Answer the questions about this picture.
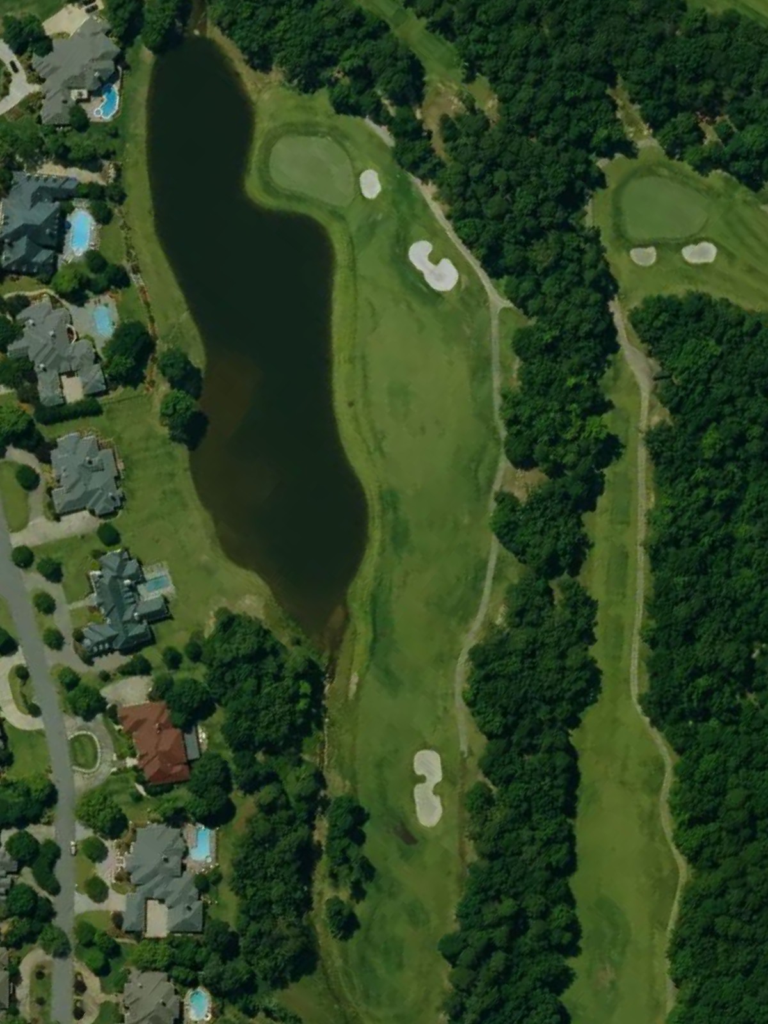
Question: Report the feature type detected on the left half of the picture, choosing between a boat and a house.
house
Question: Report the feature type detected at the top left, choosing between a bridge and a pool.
pool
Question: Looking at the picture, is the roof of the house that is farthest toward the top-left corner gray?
Yes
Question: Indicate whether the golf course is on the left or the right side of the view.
right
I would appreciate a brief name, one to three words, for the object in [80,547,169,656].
house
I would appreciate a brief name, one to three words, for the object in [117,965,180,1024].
house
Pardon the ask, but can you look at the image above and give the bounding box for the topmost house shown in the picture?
[29,11,123,124]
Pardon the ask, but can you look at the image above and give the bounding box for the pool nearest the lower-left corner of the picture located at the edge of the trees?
[188,985,212,1021]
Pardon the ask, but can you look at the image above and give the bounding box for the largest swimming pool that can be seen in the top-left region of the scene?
[70,207,92,254]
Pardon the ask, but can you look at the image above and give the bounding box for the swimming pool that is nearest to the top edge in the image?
[94,85,119,118]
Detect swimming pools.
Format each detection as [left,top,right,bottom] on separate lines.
[188,985,212,1021]
[190,827,212,863]
[94,85,119,118]
[70,207,92,254]
[93,304,115,337]
[145,575,170,593]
